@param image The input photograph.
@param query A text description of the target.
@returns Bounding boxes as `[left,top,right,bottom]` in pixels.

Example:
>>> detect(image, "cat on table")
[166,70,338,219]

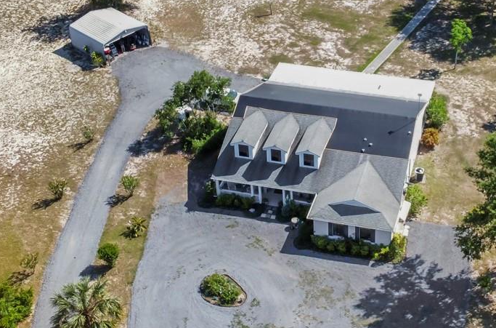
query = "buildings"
[66,5,153,65]
[209,64,436,247]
